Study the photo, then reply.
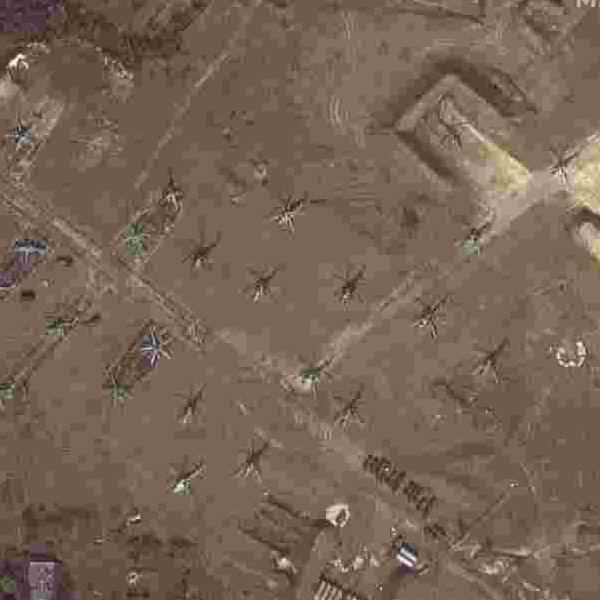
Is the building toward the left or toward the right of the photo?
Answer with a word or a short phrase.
left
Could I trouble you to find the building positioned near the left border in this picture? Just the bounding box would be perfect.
[29,561,58,600]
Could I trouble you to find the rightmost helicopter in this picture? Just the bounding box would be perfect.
[545,153,579,182]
